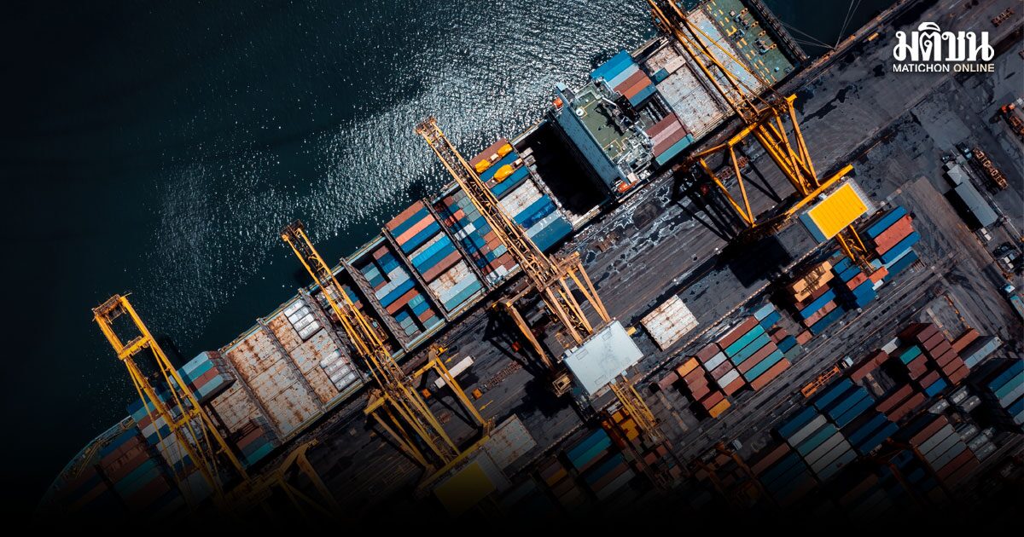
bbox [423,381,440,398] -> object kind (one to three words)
vehicle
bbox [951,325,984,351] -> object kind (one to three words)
shipping container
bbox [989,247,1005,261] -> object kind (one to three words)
car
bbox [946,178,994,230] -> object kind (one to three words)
shed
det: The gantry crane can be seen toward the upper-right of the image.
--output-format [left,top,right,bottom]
[649,0,884,282]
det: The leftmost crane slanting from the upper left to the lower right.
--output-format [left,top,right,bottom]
[91,293,372,537]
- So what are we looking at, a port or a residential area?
port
